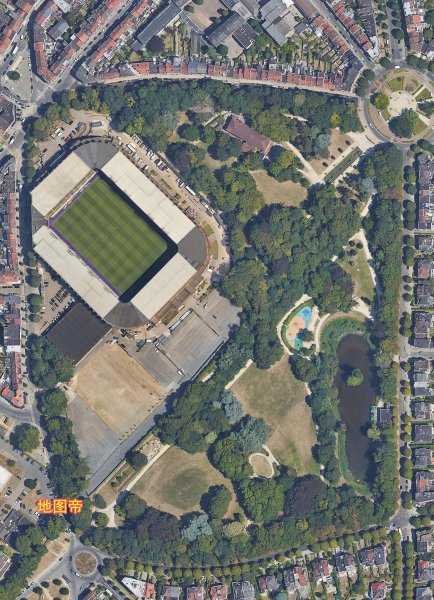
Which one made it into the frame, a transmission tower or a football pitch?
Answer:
football pitch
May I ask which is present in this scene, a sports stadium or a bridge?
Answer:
sports stadium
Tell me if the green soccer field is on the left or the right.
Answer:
left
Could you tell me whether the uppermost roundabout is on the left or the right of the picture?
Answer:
right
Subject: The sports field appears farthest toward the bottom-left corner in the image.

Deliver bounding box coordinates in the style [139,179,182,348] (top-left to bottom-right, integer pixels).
[75,342,166,440]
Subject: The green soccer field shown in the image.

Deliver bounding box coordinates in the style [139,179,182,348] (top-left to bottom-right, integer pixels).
[46,175,170,296]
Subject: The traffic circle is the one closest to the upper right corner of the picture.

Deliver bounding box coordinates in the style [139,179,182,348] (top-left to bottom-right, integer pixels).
[360,60,434,149]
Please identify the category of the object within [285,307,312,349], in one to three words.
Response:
playground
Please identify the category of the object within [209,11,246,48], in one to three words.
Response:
building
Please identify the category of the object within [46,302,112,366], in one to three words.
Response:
building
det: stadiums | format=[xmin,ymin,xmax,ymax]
[30,135,210,331]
